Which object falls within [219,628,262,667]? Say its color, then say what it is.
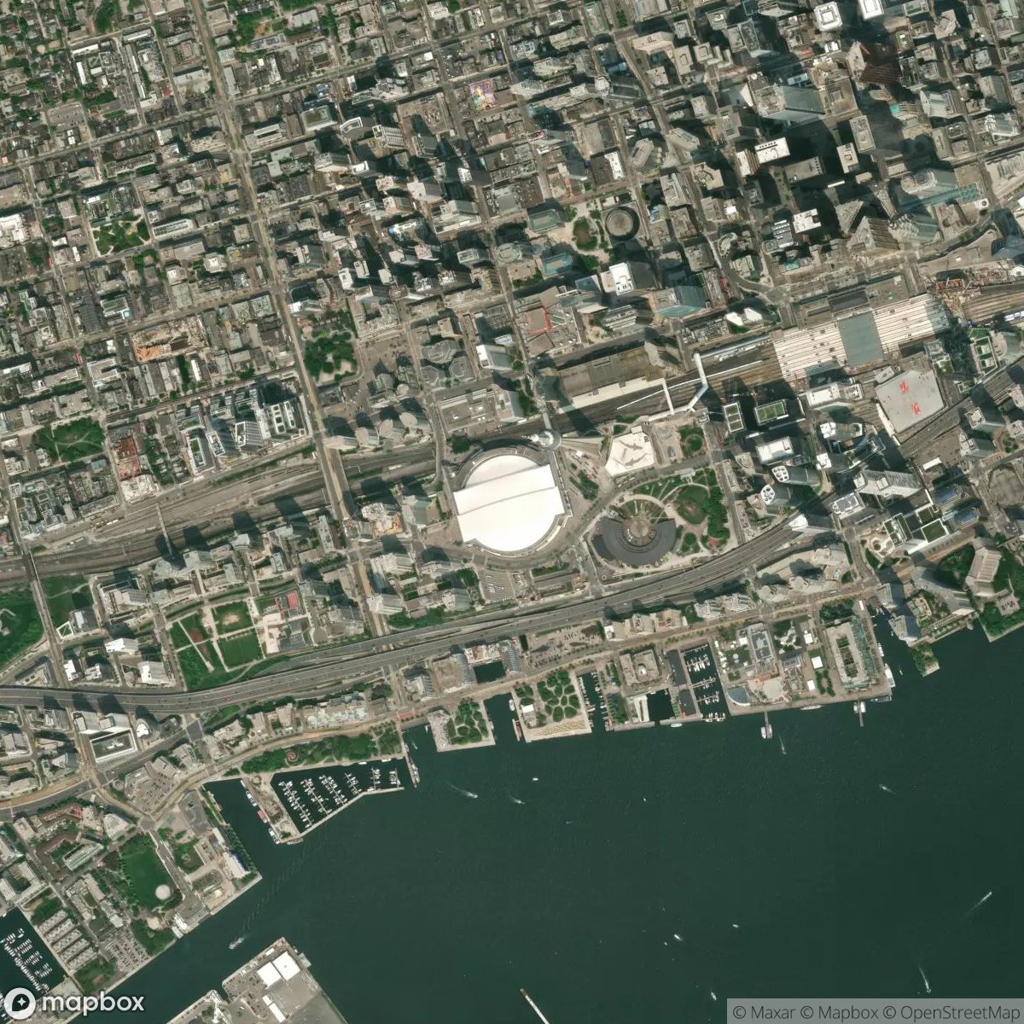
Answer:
green sports field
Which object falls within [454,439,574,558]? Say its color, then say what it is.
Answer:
white stadium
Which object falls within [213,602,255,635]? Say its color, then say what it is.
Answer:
green baseball field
